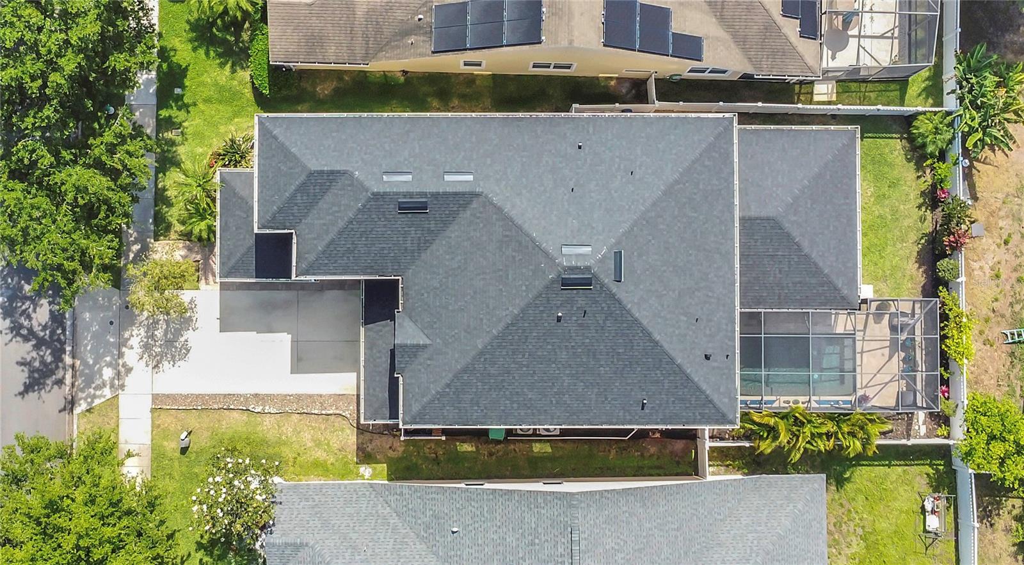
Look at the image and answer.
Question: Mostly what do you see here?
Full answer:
What you mostly see from above here is buildings.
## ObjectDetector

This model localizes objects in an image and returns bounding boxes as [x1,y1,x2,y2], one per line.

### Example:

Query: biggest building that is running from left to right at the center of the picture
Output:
[217,113,862,430]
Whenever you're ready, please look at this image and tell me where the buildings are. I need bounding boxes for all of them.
[217,113,862,430]
[265,0,824,86]
[270,472,828,565]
